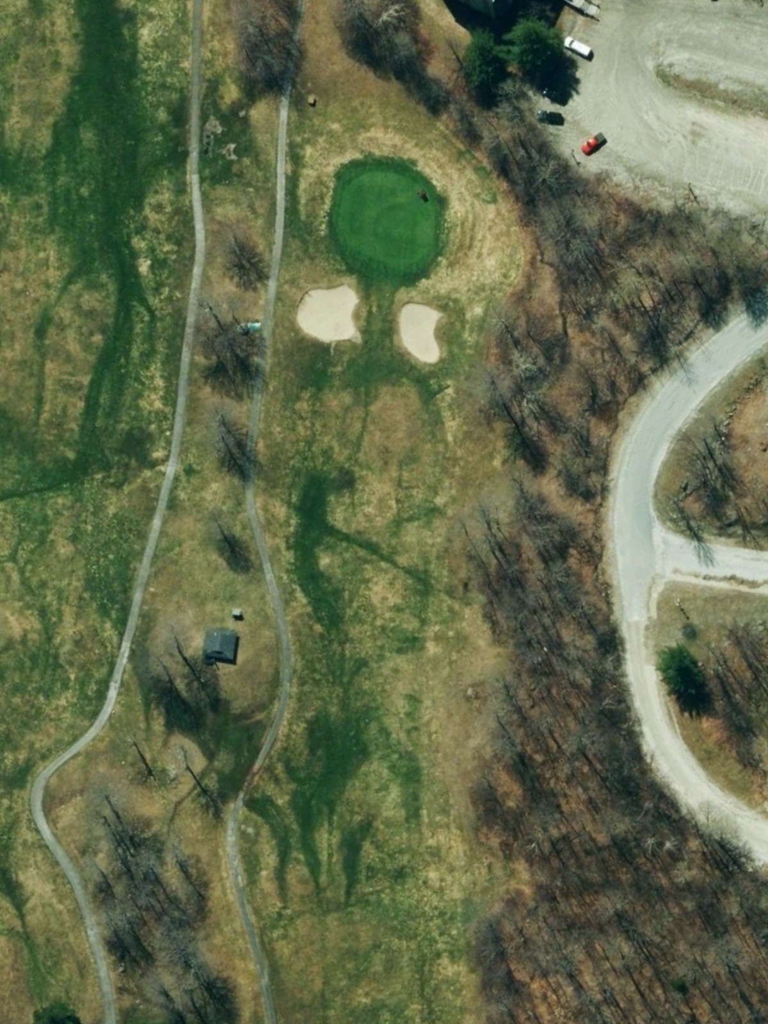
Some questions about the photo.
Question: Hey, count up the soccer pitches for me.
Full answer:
Not a single soccer pitch can be seen.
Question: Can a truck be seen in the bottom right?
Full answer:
No, no truck is visible in the bottom right.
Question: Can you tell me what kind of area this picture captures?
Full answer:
This image shows a golf course.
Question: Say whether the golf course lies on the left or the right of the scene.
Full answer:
It is on the left.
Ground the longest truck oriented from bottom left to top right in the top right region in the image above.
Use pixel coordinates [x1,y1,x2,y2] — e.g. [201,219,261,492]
[581,131,607,155]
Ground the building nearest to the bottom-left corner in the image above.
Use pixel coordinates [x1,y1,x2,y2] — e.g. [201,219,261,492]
[205,629,236,661]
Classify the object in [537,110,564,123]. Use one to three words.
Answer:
vehicle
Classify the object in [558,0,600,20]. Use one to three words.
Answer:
vehicle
